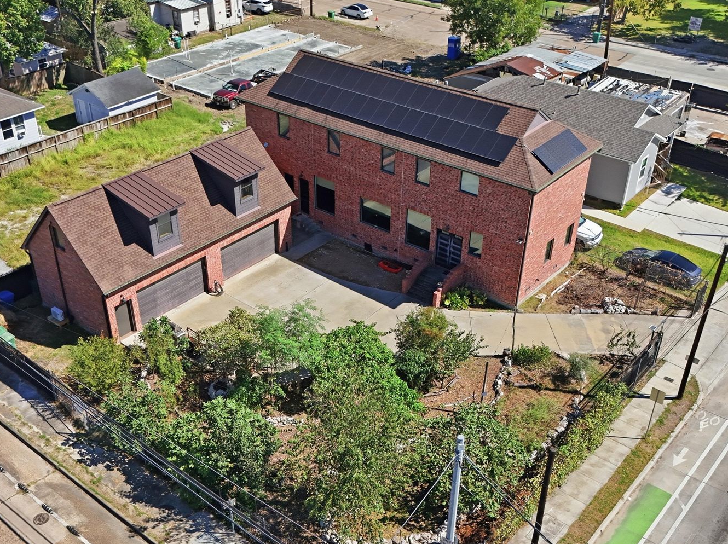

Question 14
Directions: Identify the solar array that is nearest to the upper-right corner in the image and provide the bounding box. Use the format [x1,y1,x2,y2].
[533,130,589,175]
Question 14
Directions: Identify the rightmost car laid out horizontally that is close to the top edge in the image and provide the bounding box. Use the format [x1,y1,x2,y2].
[337,3,375,21]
